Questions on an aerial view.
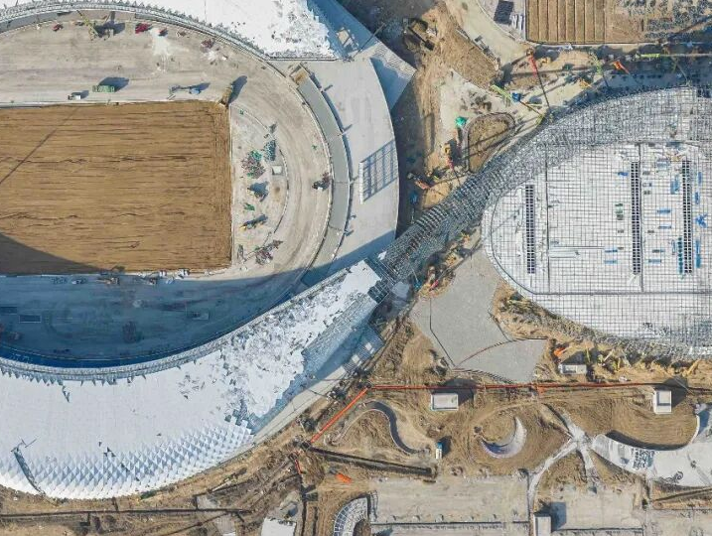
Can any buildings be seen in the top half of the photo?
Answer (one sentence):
No, looking in the top half of the photo, there is no building.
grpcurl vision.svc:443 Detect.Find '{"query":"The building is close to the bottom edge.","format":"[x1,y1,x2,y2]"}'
[535,514,554,536]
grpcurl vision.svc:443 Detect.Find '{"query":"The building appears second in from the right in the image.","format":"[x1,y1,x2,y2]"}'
[560,363,588,377]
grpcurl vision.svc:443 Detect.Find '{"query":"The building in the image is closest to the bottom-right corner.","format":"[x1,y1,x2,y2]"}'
[653,390,674,416]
